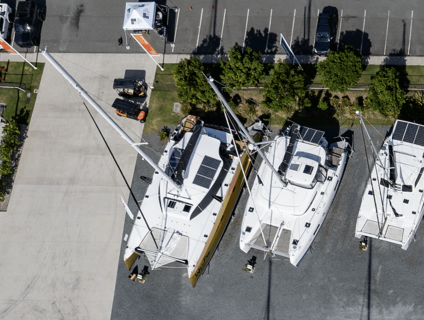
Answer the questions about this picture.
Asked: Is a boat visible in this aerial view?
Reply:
Yes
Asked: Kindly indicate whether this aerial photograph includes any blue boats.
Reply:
No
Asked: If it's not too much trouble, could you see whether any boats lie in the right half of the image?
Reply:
Yes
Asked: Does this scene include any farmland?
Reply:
No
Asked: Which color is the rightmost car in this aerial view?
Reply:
black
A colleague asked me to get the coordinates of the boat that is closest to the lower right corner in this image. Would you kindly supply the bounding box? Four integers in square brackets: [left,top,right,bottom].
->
[355,110,424,248]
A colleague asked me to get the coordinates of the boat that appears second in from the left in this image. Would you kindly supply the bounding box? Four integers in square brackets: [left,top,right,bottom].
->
[207,75,349,259]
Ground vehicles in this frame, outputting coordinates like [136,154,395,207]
[312,7,339,56]
[112,78,153,102]
[111,97,154,127]
[0,0,12,39]
[11,0,44,50]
